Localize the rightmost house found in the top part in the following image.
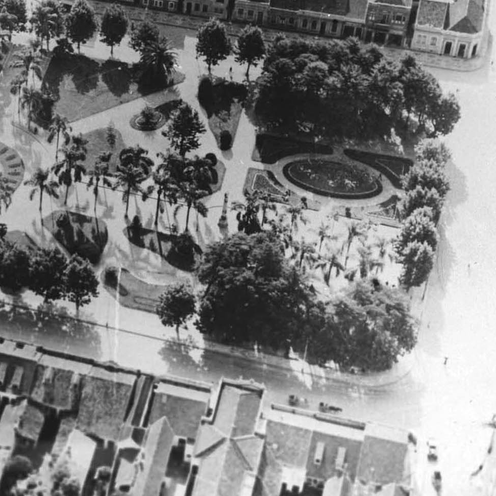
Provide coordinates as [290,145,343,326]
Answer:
[442,0,488,58]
